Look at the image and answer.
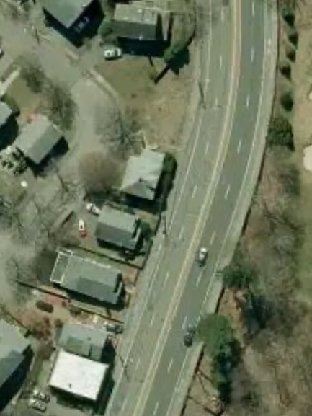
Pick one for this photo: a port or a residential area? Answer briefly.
residential area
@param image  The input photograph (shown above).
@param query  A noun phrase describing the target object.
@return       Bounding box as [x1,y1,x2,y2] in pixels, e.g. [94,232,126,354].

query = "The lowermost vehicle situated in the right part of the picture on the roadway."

[184,326,196,345]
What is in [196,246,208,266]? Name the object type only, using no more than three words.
vehicle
